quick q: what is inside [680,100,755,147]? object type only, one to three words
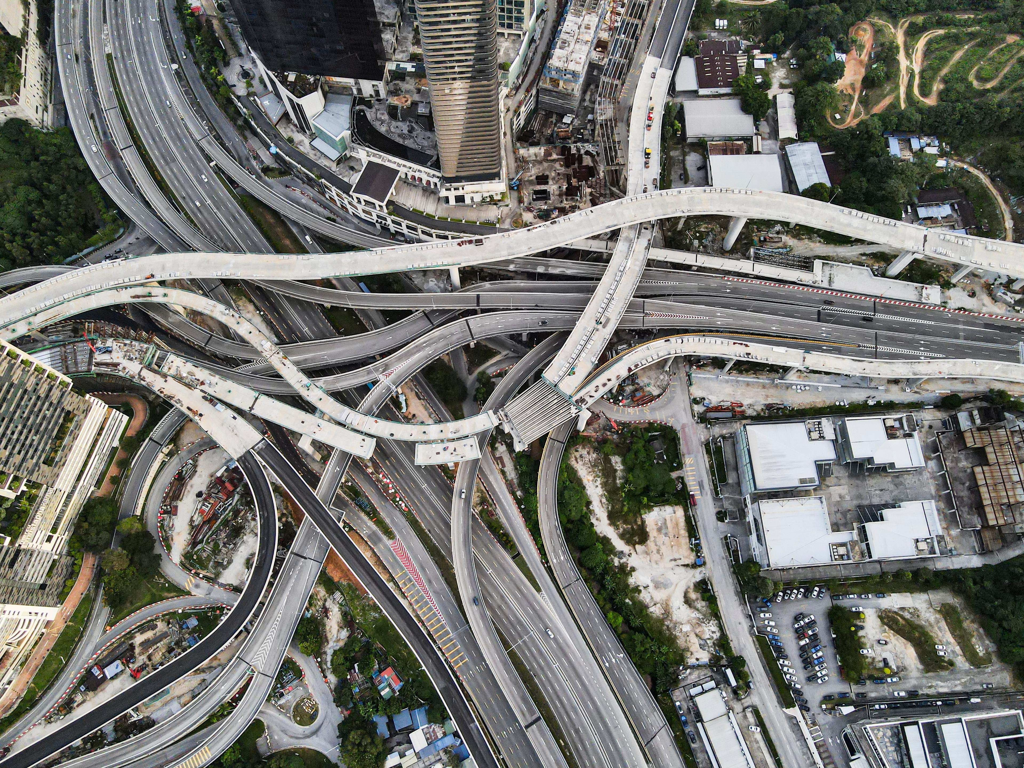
building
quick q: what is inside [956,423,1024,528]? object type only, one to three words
shed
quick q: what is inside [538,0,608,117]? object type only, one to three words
building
